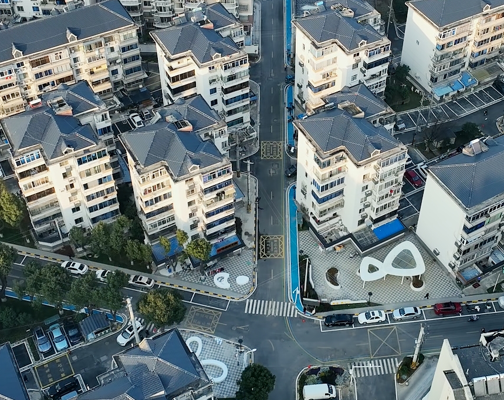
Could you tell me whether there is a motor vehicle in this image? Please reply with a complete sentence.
Yes, there's a motor vehicle down there.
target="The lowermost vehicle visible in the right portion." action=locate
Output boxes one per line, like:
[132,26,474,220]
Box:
[303,381,338,399]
